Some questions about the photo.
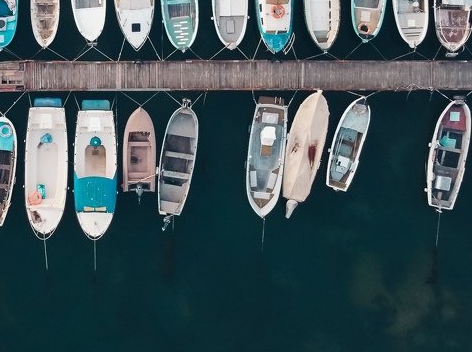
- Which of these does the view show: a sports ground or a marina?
marina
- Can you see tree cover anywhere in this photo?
No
